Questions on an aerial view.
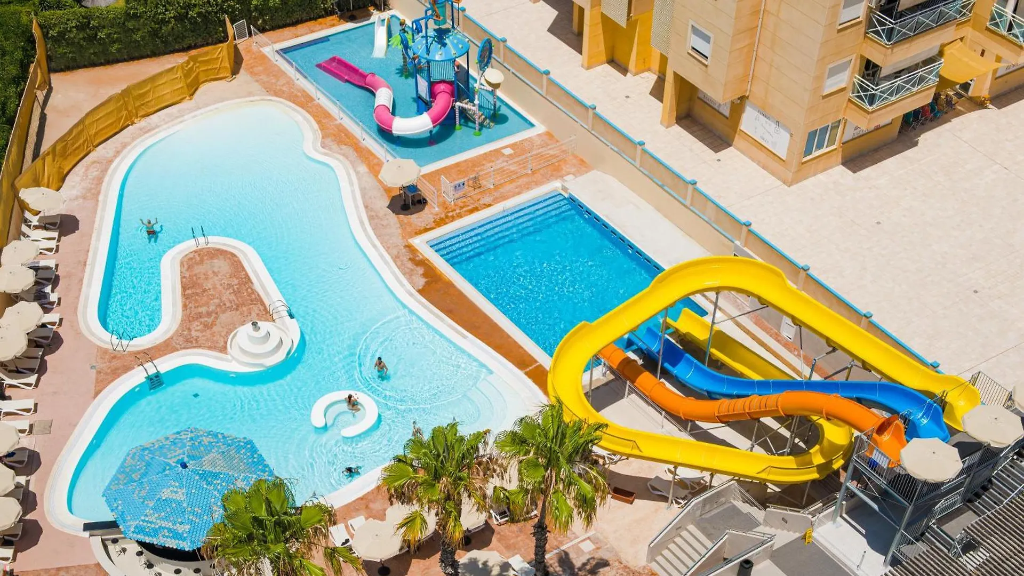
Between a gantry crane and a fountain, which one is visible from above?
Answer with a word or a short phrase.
fountain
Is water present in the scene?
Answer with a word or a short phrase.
Yes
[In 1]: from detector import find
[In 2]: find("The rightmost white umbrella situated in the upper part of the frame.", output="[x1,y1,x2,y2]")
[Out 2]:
[379,163,420,209]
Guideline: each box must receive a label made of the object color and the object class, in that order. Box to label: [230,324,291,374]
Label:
white fountain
